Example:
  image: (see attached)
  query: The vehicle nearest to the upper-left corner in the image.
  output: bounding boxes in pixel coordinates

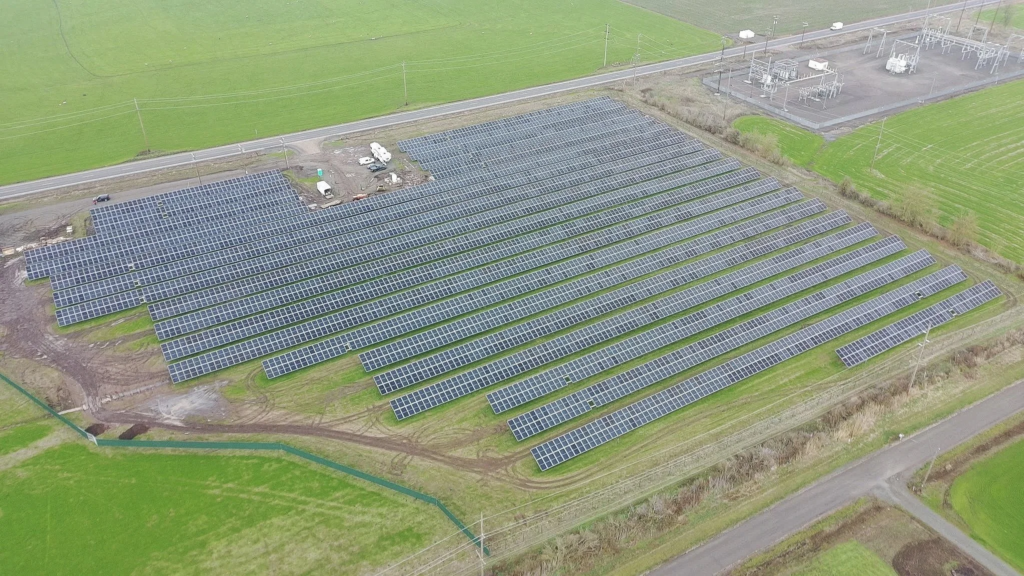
[90,192,111,204]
